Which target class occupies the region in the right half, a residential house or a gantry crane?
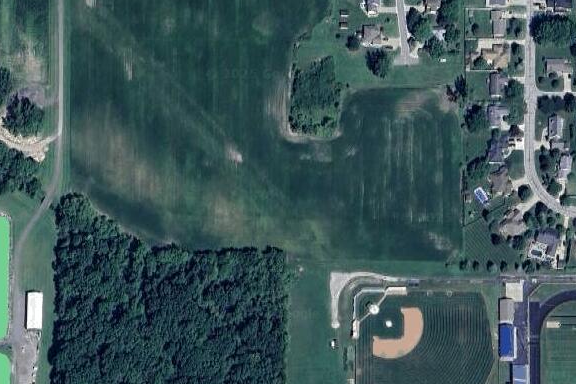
residential house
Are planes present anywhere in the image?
No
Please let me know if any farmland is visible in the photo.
Yes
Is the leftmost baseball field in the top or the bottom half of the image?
bottom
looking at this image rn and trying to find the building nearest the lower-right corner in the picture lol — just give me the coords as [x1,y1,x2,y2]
[499,322,514,357]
